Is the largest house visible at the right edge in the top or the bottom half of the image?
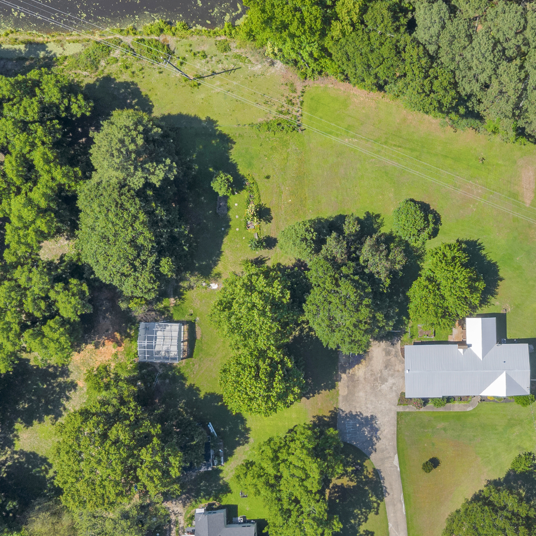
bottom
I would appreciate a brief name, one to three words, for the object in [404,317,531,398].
house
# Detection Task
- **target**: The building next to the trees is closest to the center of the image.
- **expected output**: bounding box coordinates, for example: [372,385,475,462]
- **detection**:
[137,322,193,362]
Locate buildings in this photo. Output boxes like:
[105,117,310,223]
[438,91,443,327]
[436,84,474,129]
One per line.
[137,322,193,362]
[186,505,259,536]
[404,317,531,398]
